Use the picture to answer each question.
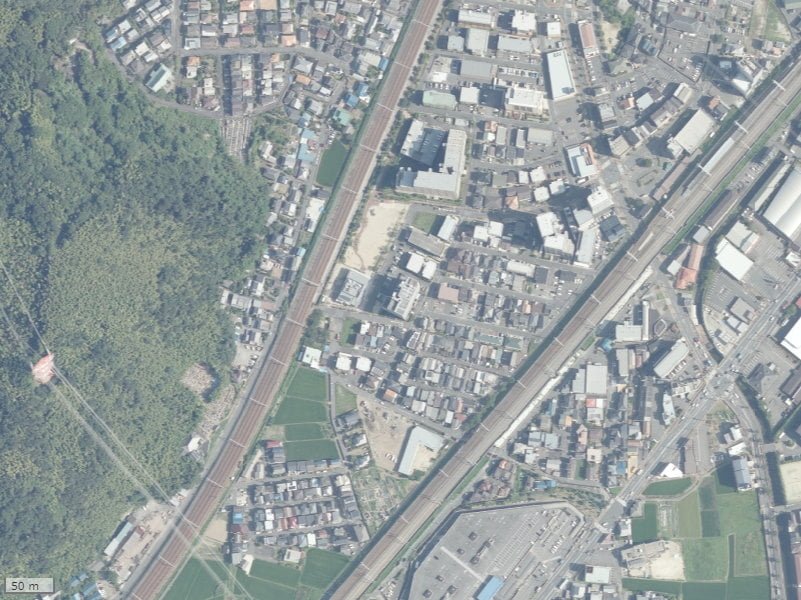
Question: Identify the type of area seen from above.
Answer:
residential area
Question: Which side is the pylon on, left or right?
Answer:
left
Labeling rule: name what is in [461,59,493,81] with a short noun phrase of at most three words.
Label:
building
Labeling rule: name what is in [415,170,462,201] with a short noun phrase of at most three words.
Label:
building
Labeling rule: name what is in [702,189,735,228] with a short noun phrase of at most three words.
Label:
shed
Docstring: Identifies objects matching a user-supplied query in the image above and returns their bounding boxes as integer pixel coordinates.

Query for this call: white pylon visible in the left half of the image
[28,361,56,383]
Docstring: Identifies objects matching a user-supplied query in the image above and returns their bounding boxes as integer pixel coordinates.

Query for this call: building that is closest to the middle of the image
[386,275,421,323]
